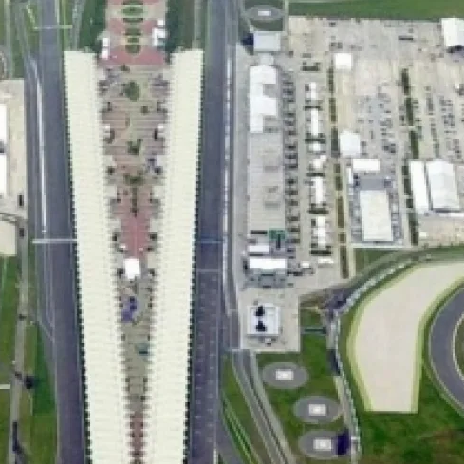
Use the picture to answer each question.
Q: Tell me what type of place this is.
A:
sports ground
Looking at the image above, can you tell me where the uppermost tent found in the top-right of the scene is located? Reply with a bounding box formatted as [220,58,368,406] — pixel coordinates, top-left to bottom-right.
[336,51,352,73]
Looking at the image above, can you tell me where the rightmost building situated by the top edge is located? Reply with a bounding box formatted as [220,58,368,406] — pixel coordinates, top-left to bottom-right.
[442,14,464,52]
